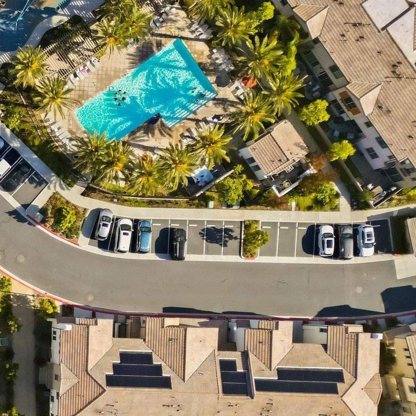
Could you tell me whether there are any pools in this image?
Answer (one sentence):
Yes, there is a pool in the image.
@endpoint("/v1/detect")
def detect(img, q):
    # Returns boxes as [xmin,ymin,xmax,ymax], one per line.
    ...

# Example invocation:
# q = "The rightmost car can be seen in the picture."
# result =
[357,225,375,256]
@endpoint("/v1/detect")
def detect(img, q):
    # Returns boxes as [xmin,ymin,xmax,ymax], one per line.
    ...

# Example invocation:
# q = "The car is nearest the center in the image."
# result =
[169,228,187,261]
